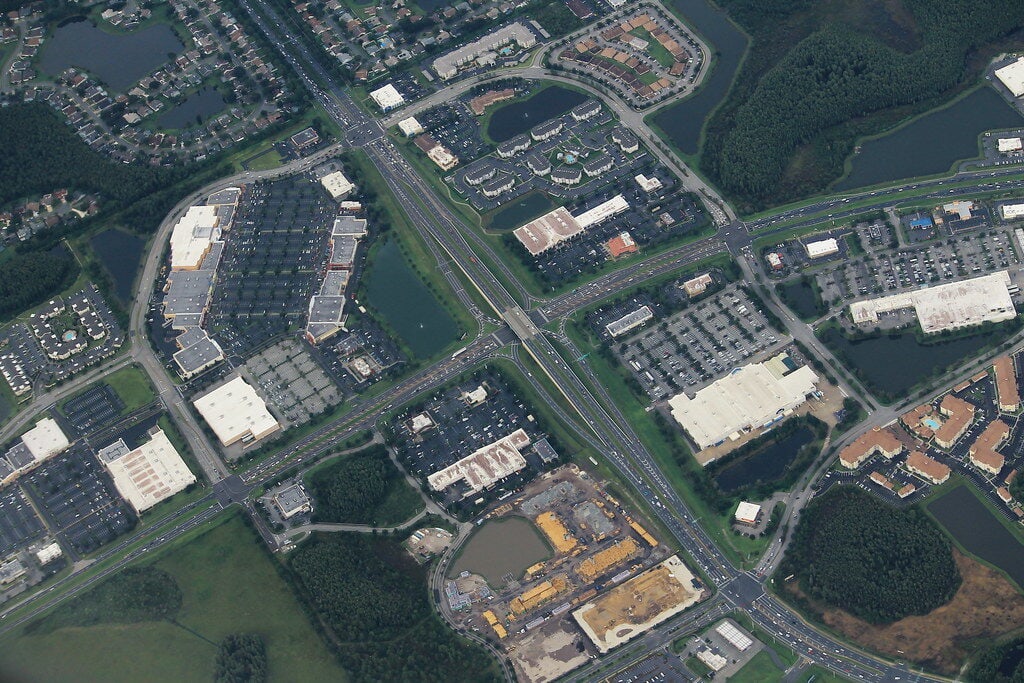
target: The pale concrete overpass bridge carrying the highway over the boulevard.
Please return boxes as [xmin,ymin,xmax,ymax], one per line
[498,301,541,339]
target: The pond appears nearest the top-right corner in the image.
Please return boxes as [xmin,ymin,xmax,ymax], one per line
[830,87,1024,194]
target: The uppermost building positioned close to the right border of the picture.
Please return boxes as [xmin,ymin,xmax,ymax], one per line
[994,56,1024,100]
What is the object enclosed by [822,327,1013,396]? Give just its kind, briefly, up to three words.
pond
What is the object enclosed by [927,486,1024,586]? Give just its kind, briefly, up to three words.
pond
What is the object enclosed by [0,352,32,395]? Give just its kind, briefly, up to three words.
building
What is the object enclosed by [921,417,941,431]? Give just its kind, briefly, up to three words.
swimming pool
